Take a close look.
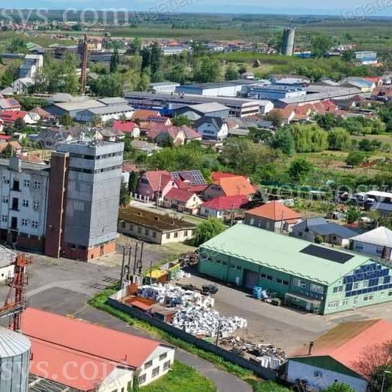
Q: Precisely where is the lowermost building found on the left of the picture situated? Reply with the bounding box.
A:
[0,307,180,392]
